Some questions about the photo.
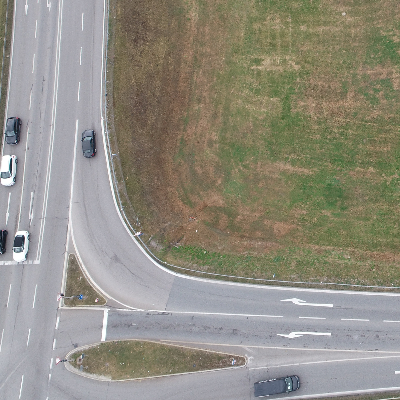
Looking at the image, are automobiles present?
Yes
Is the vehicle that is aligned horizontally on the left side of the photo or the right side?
right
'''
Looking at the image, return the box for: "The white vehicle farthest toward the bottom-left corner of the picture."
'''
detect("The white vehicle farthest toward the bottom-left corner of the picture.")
[11,231,30,263]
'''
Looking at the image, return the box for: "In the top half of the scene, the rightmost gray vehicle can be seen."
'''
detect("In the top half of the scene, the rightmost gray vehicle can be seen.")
[81,130,97,158]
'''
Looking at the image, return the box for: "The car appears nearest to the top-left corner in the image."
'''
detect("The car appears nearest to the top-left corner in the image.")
[4,117,22,145]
